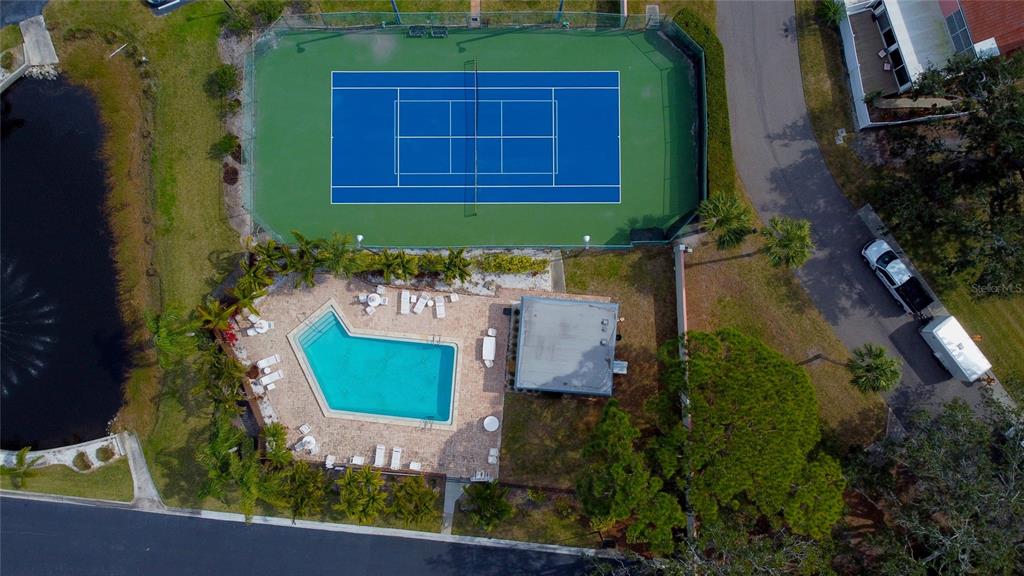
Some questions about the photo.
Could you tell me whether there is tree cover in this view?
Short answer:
Yes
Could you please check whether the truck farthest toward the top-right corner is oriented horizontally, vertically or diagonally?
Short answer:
diagonally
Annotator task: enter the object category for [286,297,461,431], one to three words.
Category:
swimming pool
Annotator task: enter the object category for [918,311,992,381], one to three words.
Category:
trailer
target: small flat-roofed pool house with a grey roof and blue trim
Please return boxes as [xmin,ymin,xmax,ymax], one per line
[505,296,629,399]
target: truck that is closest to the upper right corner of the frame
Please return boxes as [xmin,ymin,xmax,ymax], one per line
[863,241,934,314]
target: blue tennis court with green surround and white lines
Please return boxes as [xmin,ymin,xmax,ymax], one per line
[256,30,697,247]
